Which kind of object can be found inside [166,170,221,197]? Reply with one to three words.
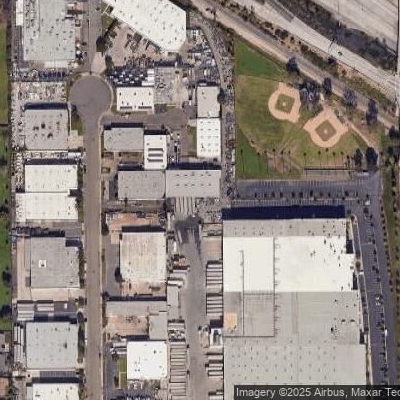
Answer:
building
